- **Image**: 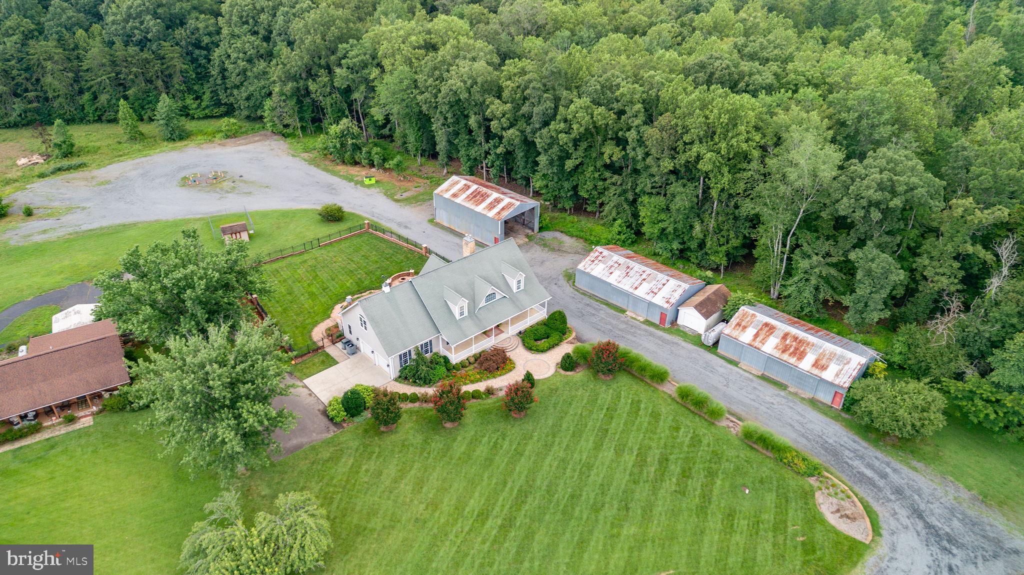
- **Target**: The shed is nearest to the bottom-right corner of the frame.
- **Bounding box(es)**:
[718,301,880,407]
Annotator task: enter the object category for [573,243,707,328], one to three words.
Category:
shed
